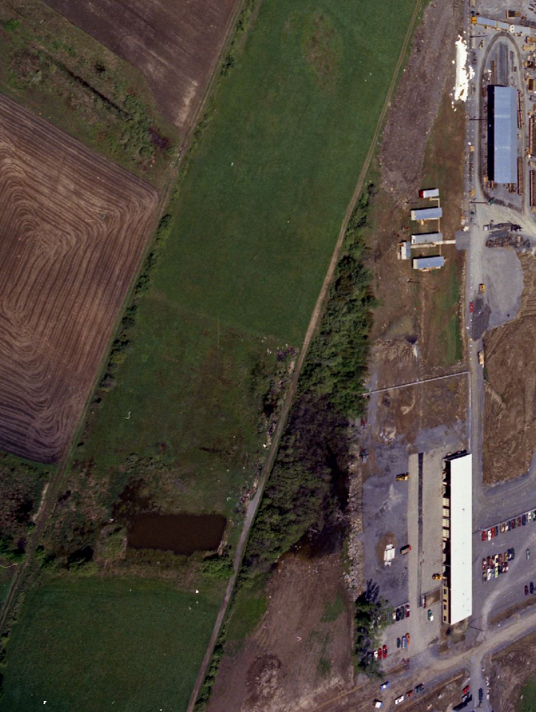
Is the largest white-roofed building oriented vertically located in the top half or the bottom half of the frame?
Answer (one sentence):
The largest white-roofed building oriented vertically is in the bottom half of the image.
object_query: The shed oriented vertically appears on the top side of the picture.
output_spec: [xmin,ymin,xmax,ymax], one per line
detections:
[488,86,516,184]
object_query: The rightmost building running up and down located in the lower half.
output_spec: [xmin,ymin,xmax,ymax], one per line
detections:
[442,452,471,625]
